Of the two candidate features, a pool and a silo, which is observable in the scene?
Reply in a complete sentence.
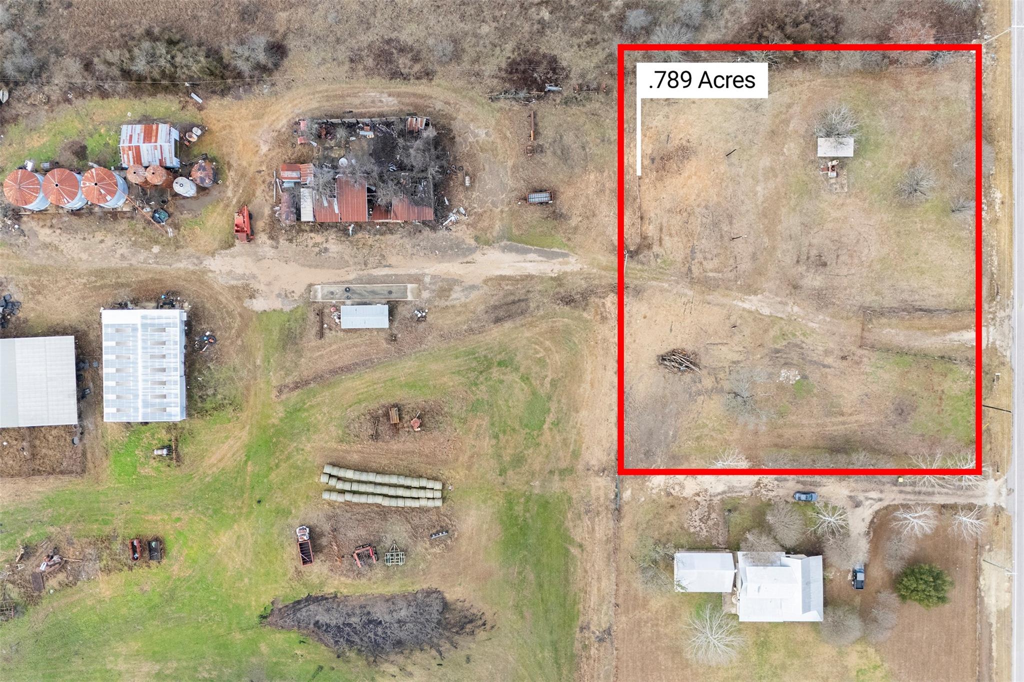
There is a silo in the scene.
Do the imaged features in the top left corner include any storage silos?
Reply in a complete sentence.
Yes, the scene does show a storage silo in the top left corner.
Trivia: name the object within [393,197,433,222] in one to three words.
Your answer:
shed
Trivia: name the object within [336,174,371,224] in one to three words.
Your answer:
barn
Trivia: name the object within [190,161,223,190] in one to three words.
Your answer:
silo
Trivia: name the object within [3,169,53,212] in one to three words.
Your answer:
silo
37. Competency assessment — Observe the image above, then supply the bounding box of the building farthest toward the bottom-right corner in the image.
[735,549,823,626]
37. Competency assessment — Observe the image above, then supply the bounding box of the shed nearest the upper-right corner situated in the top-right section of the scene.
[812,138,853,159]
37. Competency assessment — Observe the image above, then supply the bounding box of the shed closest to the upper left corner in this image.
[119,124,181,170]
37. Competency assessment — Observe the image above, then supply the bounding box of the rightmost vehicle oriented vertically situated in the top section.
[234,205,254,245]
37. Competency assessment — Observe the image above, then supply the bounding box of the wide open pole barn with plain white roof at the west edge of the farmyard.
[0,336,88,428]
